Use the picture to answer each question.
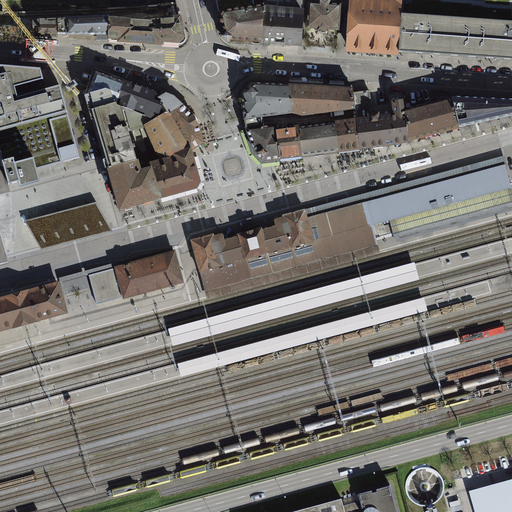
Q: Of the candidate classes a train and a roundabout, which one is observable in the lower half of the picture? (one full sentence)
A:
There is a train in the lower half of the picture.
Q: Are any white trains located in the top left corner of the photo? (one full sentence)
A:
No, no white train is visible in the top left corner of the photo.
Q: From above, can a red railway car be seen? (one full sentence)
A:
Yes, the image includes a red railway car.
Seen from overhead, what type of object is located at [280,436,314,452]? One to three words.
rail car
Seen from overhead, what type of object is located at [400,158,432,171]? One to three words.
vehicle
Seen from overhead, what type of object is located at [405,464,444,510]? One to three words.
storage tank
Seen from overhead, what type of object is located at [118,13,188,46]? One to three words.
building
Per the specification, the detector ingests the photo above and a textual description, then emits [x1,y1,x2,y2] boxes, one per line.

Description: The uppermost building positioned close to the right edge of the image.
[400,12,512,58]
